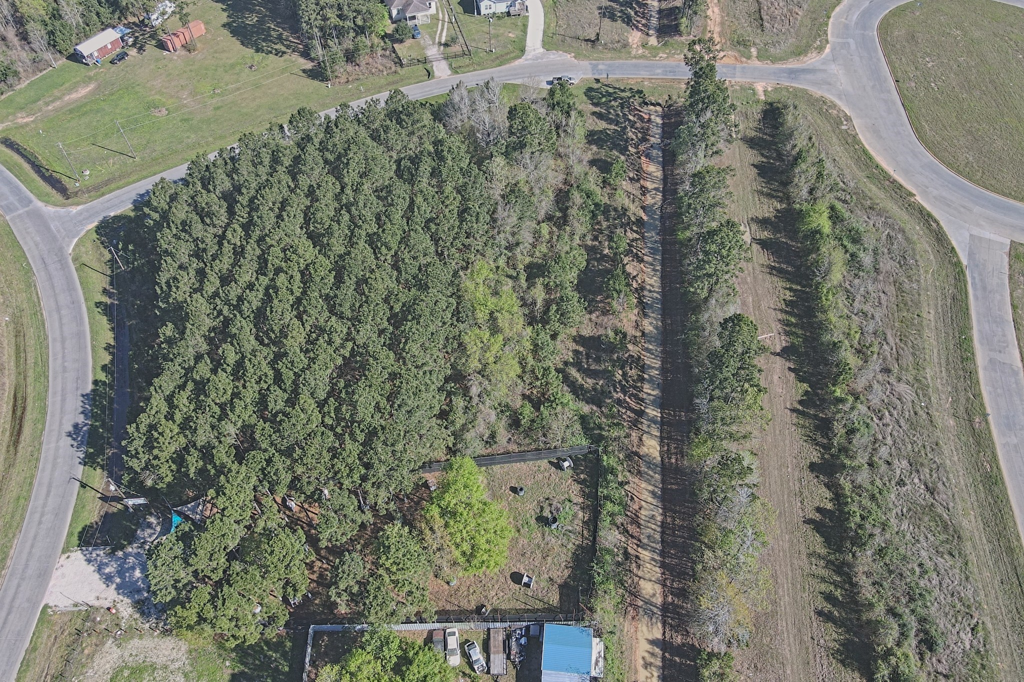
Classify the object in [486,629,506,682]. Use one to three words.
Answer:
trailer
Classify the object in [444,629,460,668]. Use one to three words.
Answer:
car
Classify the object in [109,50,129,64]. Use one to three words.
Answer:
car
